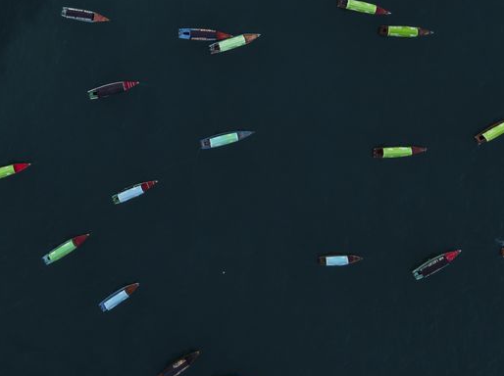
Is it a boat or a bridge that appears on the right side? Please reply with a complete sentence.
There is a boat on the right side.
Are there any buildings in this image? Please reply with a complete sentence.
No, no building is visible in the view.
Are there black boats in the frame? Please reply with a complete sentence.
Yes, the frame does contain a black boat.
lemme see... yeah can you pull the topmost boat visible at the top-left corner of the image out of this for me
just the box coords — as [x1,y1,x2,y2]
[62,6,110,22]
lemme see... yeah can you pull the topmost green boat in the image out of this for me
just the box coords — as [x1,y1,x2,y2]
[336,0,392,14]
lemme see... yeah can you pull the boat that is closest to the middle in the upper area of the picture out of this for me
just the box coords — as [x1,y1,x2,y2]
[199,130,256,149]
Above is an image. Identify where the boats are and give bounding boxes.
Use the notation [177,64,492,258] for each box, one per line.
[413,251,462,281]
[373,146,428,158]
[319,255,362,267]
[99,284,140,312]
[474,120,504,146]
[378,26,435,37]
[111,181,159,205]
[87,81,140,101]
[179,29,233,40]
[199,130,256,149]
[41,234,90,266]
[62,6,110,22]
[208,34,262,53]
[0,162,31,178]
[336,0,392,14]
